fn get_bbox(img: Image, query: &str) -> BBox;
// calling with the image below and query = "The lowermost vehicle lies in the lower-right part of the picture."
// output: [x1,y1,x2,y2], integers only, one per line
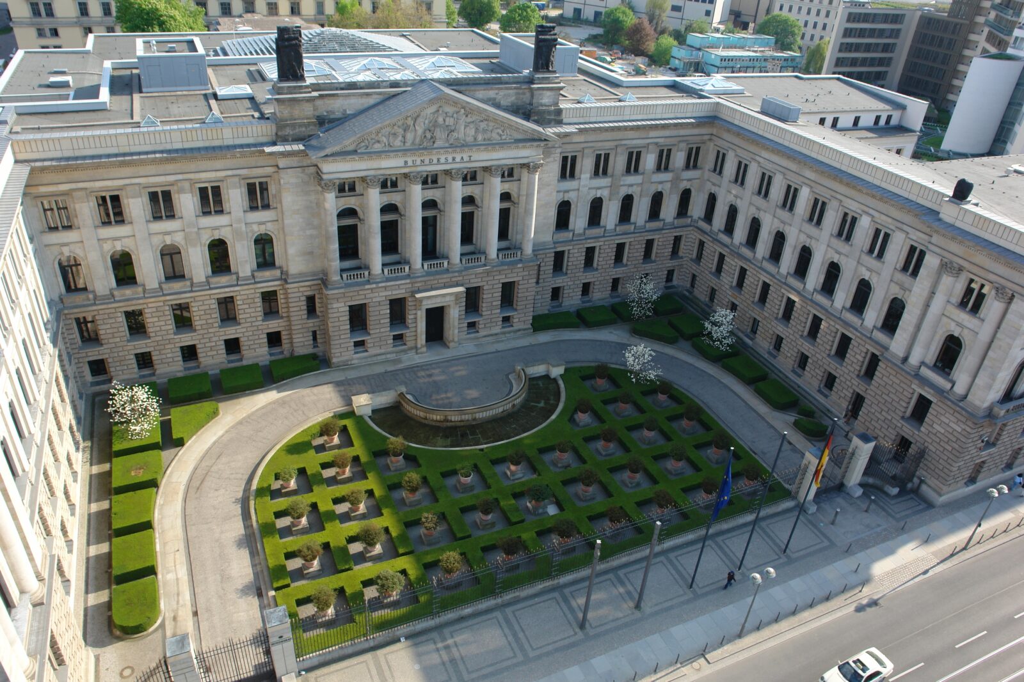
[815,650,891,682]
